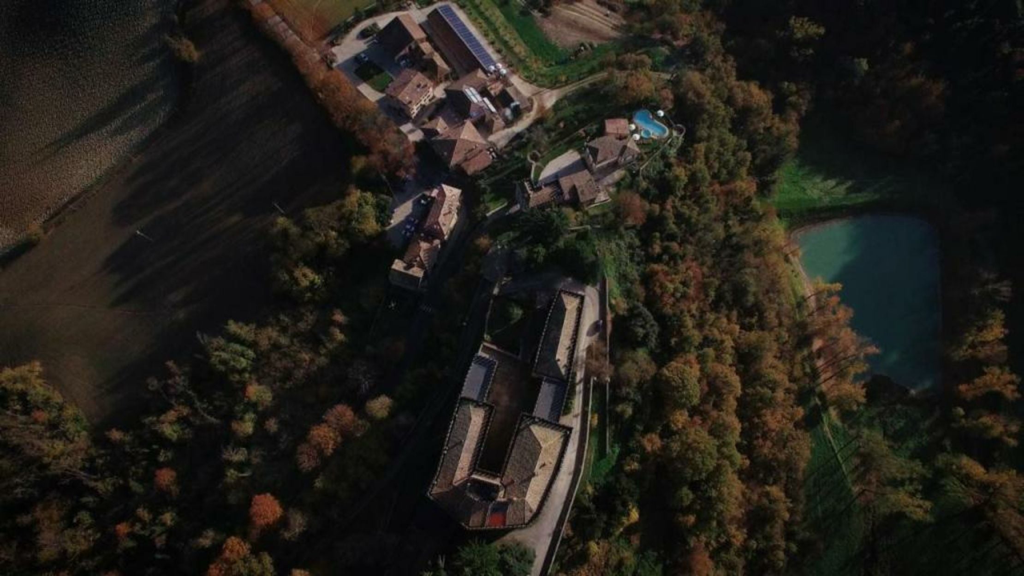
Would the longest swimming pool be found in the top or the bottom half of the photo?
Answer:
top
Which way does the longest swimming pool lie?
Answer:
on a diagonal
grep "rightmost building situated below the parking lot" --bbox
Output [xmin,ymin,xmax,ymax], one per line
[428,289,585,530]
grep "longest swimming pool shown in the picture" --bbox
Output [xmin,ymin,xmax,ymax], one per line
[633,109,669,139]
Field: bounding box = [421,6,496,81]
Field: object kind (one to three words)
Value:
barn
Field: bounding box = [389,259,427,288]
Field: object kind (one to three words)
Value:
house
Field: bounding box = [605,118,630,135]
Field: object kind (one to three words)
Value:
building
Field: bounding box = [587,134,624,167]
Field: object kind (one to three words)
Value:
house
